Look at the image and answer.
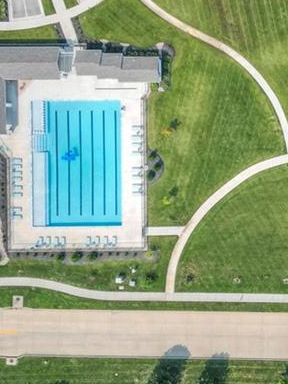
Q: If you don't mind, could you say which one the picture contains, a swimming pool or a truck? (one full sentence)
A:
This aerial view contains a swimming pool.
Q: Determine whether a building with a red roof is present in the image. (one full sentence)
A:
No, there's no building with a red roof here.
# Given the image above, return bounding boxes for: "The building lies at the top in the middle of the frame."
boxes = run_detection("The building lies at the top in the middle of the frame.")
[71,50,161,82]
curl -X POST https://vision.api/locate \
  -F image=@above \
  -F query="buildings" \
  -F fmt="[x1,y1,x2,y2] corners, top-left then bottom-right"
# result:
[0,47,64,135]
[71,50,161,82]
